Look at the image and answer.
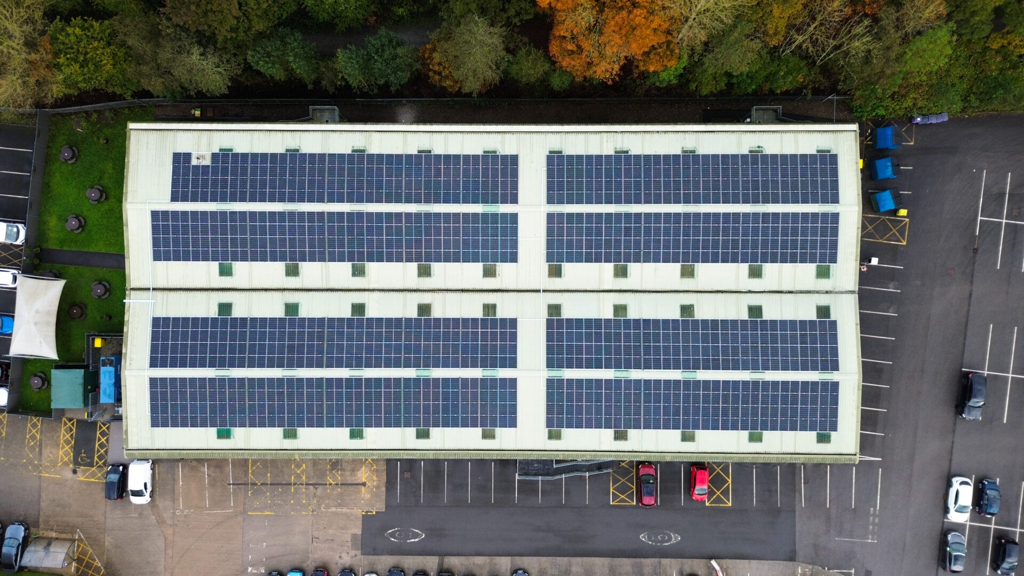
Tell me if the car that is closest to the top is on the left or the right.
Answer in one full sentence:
The car that is closest to the top sits on the left side.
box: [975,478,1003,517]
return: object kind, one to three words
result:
car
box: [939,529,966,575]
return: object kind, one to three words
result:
car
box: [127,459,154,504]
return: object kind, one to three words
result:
vehicle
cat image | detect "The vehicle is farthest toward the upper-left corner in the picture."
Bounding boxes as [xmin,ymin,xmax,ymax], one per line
[0,222,25,244]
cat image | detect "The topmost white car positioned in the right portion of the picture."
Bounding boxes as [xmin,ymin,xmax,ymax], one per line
[944,475,972,522]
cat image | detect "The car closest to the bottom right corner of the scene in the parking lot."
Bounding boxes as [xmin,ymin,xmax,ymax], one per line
[991,534,1021,576]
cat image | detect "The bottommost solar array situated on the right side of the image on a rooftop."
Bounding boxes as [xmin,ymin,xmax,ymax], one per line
[546,378,839,431]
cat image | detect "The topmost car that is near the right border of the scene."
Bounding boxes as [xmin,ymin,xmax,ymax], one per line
[958,372,988,420]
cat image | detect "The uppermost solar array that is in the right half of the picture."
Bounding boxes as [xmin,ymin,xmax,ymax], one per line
[546,153,839,205]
